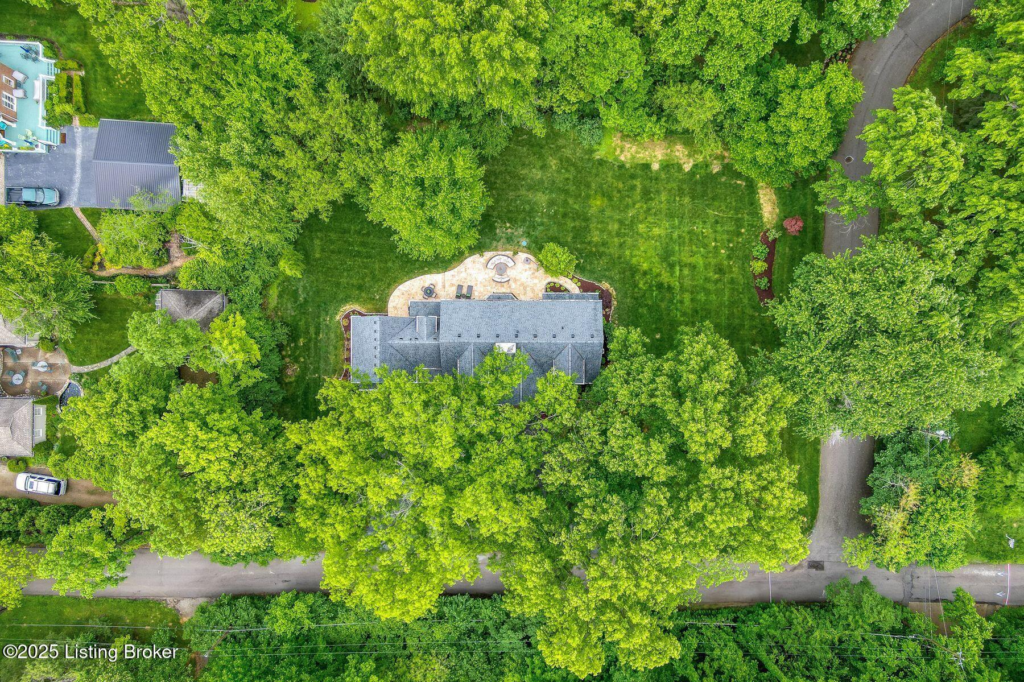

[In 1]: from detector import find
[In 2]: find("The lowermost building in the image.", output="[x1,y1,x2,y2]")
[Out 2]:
[0,397,46,456]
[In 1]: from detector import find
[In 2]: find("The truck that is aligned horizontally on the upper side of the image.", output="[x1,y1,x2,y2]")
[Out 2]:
[5,185,61,208]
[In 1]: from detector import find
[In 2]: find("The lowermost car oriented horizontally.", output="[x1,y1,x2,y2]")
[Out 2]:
[16,471,70,497]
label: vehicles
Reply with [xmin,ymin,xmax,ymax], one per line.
[16,471,70,497]
[5,185,61,208]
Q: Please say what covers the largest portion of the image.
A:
trees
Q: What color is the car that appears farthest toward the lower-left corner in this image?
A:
white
